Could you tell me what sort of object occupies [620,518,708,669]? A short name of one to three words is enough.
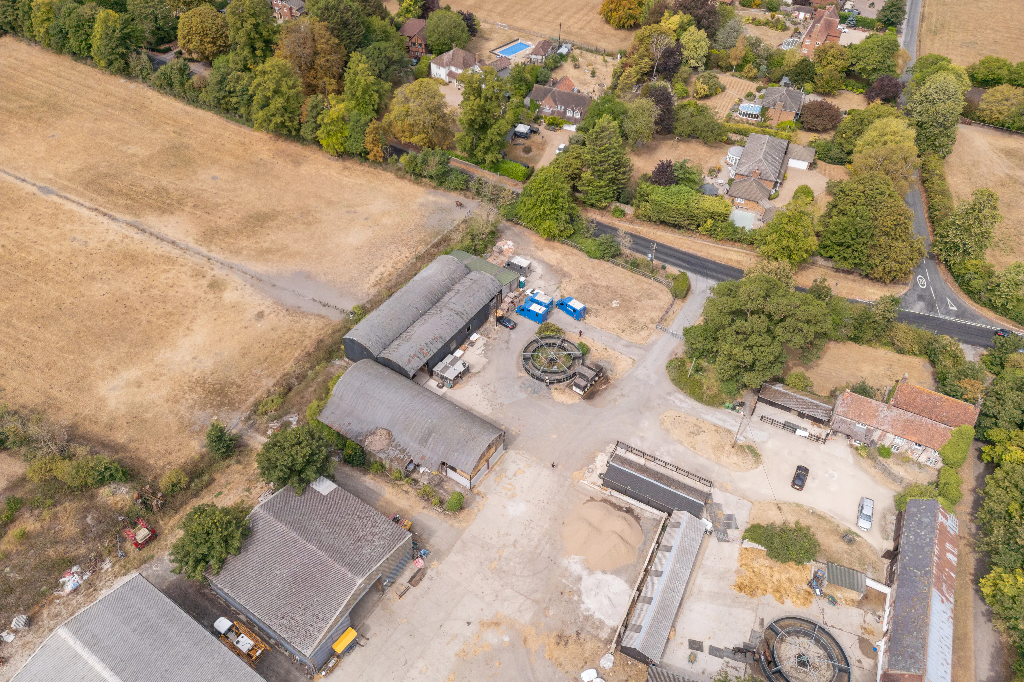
building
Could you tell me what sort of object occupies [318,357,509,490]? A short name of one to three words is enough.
barn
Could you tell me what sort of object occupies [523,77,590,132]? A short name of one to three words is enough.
house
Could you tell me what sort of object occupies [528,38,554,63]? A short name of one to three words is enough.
shed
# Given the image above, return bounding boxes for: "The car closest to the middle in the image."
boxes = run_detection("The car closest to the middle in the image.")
[494,314,519,328]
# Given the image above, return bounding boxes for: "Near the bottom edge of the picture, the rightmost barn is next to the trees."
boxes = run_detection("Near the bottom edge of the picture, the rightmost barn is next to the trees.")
[882,501,960,682]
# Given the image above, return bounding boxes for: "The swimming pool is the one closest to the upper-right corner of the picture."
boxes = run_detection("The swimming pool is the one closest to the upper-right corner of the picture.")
[729,209,756,229]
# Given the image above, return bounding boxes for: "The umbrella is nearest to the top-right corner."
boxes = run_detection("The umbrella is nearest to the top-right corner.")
[704,178,725,192]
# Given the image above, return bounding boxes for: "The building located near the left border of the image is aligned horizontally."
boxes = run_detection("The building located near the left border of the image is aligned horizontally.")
[12,570,274,682]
